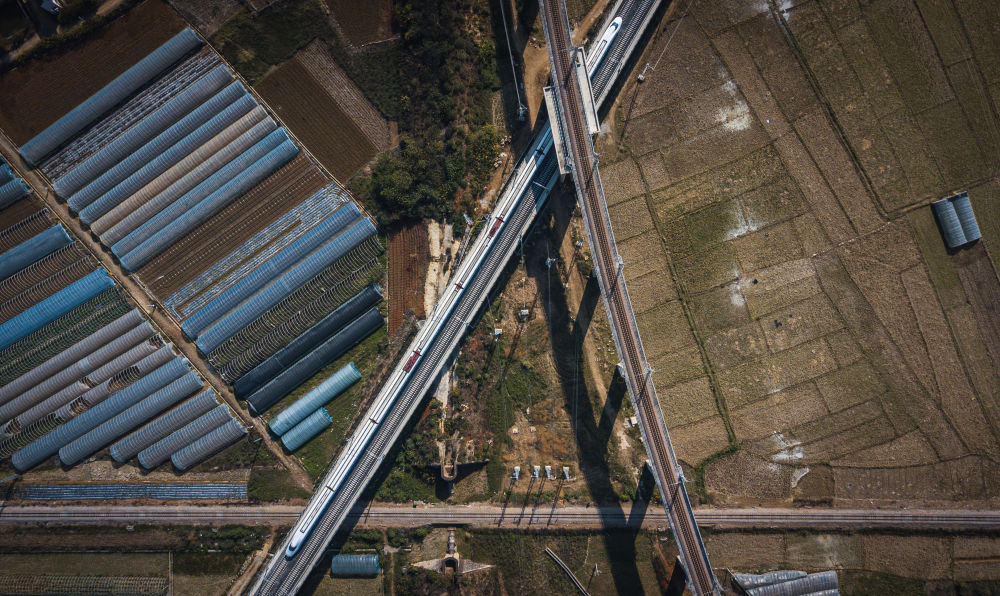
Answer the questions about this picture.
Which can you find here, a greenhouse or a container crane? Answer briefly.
greenhouse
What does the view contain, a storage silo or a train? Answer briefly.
train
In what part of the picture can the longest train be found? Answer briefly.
center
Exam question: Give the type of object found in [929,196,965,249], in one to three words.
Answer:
greenhouse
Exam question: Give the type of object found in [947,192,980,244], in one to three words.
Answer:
greenhouse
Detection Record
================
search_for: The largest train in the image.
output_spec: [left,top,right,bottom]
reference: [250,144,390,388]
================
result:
[293,10,626,550]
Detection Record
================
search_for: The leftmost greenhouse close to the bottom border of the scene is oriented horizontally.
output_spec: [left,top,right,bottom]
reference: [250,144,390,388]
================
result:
[329,552,382,575]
